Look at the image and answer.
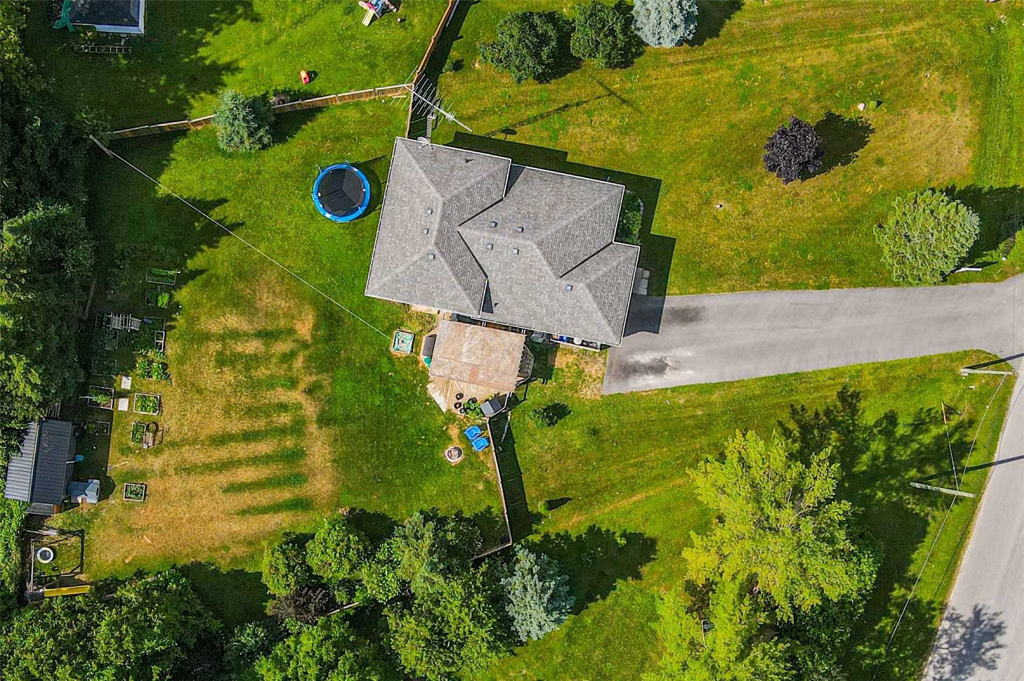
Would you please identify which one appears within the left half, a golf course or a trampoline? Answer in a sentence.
Visible within the left half is a trampoline.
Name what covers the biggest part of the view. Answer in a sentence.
The largest share of the image is taken up by grass.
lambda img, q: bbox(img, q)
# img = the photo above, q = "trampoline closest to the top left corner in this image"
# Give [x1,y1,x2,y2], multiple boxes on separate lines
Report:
[306,157,371,222]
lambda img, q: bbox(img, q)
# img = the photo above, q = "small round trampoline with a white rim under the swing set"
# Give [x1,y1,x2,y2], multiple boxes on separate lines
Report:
[37,547,54,564]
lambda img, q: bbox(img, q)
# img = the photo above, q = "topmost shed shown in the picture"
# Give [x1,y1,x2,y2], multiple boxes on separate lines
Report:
[67,0,146,35]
